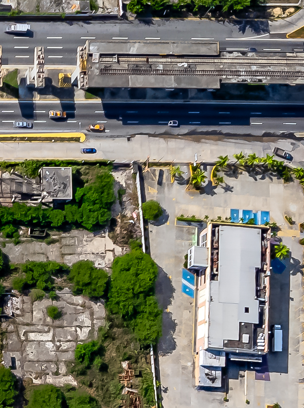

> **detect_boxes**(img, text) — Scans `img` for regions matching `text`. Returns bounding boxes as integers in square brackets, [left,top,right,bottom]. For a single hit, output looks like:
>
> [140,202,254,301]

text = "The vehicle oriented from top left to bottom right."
[274,145,293,162]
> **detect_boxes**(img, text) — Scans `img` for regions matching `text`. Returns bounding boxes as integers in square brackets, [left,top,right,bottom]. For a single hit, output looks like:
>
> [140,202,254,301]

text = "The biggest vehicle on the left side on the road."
[4,20,31,34]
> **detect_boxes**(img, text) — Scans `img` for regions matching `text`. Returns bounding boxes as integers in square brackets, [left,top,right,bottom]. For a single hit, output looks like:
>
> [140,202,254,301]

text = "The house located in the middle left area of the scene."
[39,166,73,202]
